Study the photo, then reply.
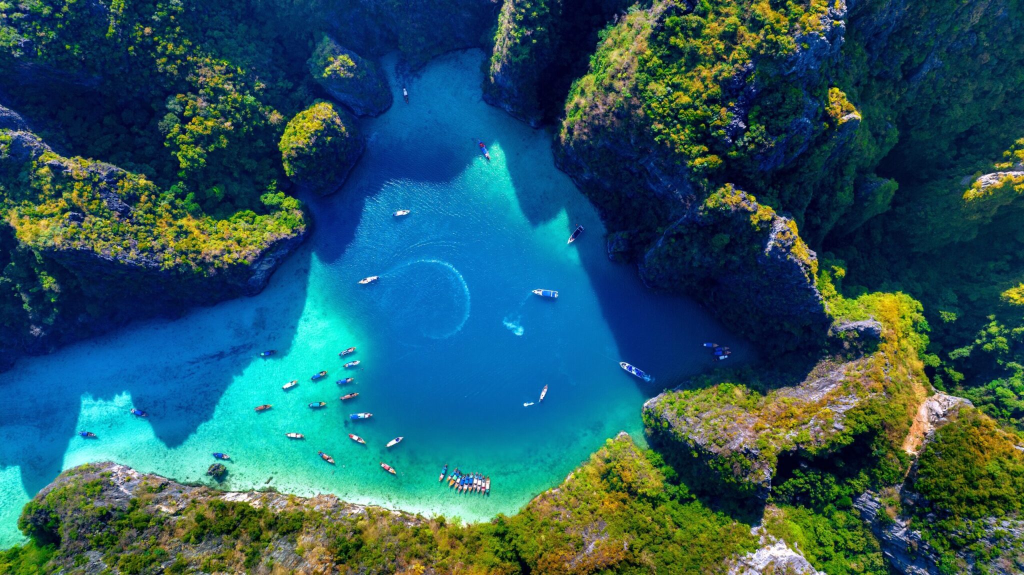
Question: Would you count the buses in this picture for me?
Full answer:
There are no buses in this view.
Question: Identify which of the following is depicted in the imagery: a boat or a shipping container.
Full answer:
The image shows a boat.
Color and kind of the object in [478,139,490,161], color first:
blue boat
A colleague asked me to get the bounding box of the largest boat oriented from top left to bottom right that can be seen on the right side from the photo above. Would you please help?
[620,362,650,382]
